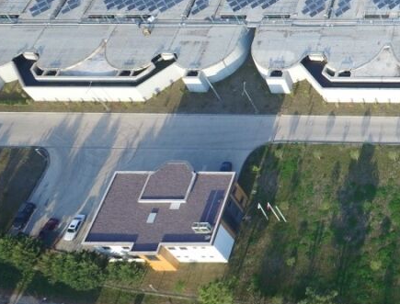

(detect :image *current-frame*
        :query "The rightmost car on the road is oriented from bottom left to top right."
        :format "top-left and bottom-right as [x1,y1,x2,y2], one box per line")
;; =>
[60,209,92,248]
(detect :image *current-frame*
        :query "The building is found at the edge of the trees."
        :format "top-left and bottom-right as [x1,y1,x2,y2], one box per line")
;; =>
[82,163,251,271]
